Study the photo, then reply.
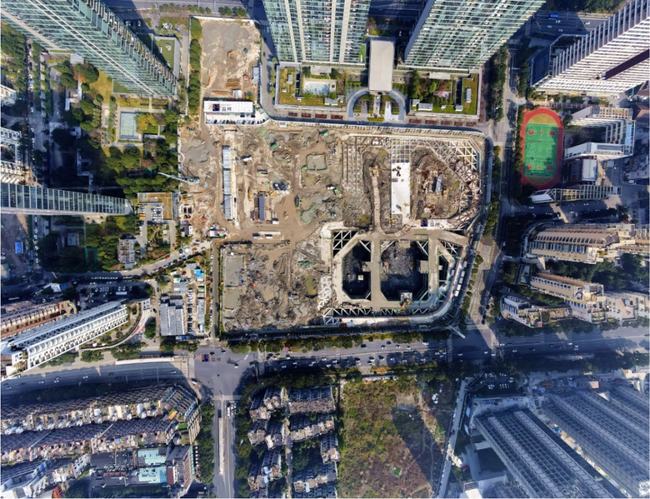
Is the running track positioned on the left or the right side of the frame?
right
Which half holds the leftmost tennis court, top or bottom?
top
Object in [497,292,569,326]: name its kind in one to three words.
house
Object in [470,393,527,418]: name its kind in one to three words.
building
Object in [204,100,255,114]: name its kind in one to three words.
building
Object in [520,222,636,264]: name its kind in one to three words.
house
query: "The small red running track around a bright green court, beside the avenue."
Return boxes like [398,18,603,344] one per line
[521,107,562,189]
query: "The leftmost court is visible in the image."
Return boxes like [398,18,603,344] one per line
[114,109,144,141]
